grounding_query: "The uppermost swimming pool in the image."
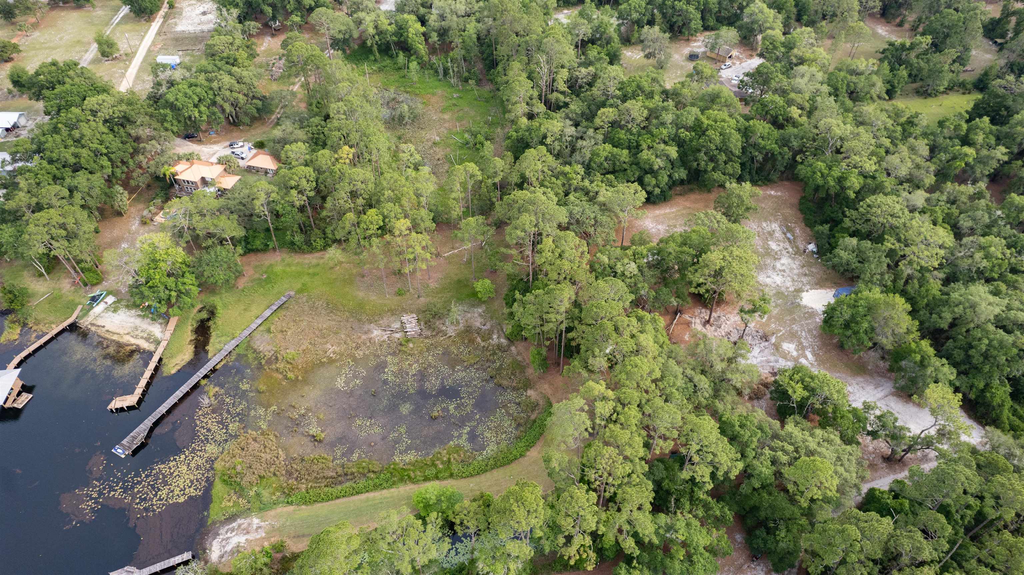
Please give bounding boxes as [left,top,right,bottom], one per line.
[148,211,175,227]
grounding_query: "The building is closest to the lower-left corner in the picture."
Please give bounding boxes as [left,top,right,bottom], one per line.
[0,368,34,419]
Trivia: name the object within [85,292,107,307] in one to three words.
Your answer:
boat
